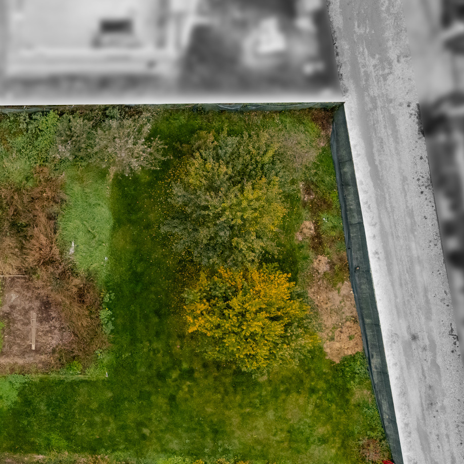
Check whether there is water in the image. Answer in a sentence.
No, the scene doesn't show any water.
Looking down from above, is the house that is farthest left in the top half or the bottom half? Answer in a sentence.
It is in the top half that the house that is farthest left appears.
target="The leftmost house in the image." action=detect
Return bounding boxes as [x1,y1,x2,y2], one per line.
[3,0,171,93]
